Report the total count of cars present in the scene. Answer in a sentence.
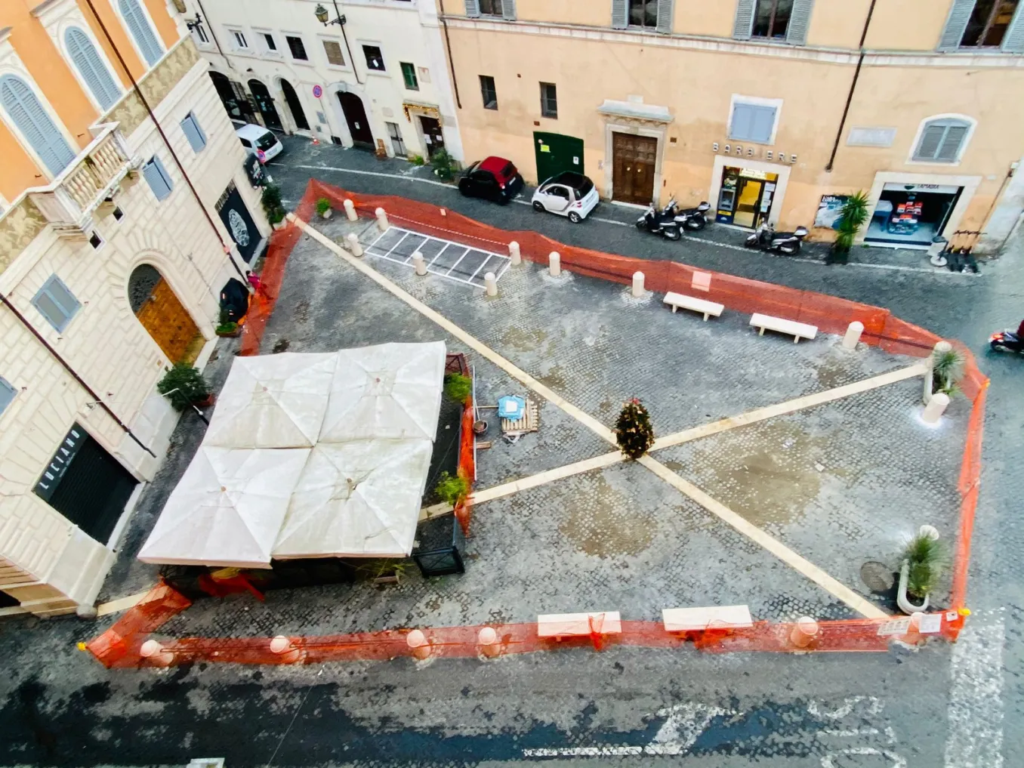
The picture shows 3 cars.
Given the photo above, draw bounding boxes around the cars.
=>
[530,163,605,225]
[230,113,278,163]
[445,155,520,209]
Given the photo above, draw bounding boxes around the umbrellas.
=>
[272,441,436,565]
[316,341,447,447]
[204,352,337,449]
[137,446,317,564]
